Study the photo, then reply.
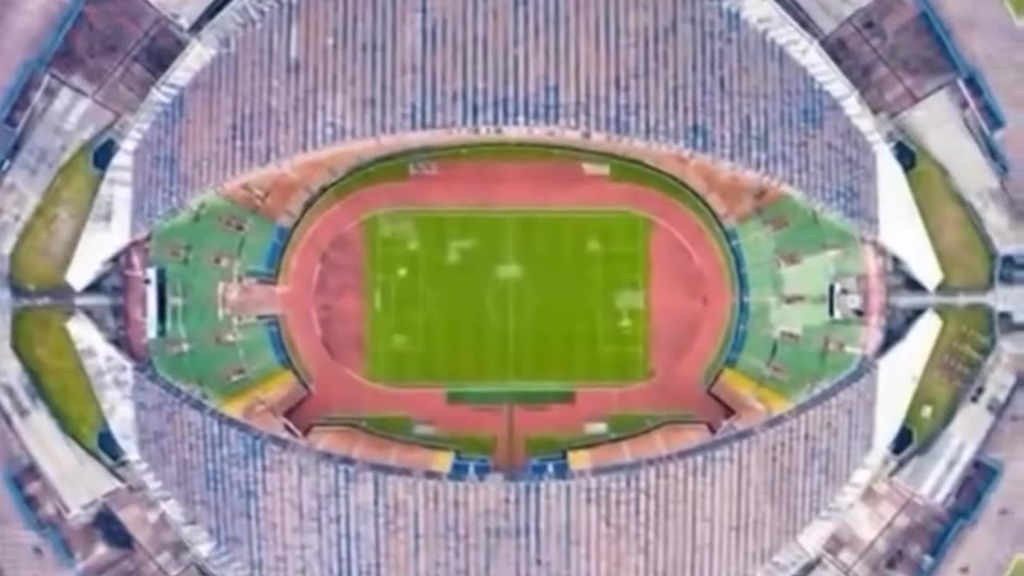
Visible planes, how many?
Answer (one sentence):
The count of planes is 0.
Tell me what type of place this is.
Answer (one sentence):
What you see here is a sports ground.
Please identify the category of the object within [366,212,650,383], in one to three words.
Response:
soccer field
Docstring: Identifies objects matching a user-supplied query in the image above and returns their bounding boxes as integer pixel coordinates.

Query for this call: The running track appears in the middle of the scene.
[280,147,735,478]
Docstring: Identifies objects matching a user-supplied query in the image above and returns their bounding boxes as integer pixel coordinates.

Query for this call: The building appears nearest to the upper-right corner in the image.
[891,141,918,168]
